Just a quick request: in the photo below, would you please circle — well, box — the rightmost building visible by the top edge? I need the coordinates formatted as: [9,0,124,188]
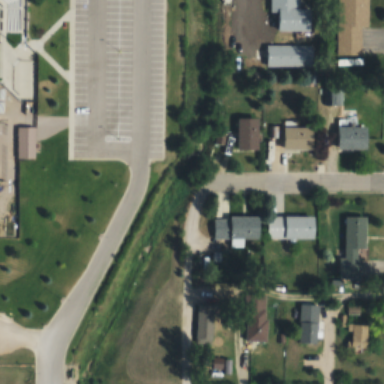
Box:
[338,0,370,56]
